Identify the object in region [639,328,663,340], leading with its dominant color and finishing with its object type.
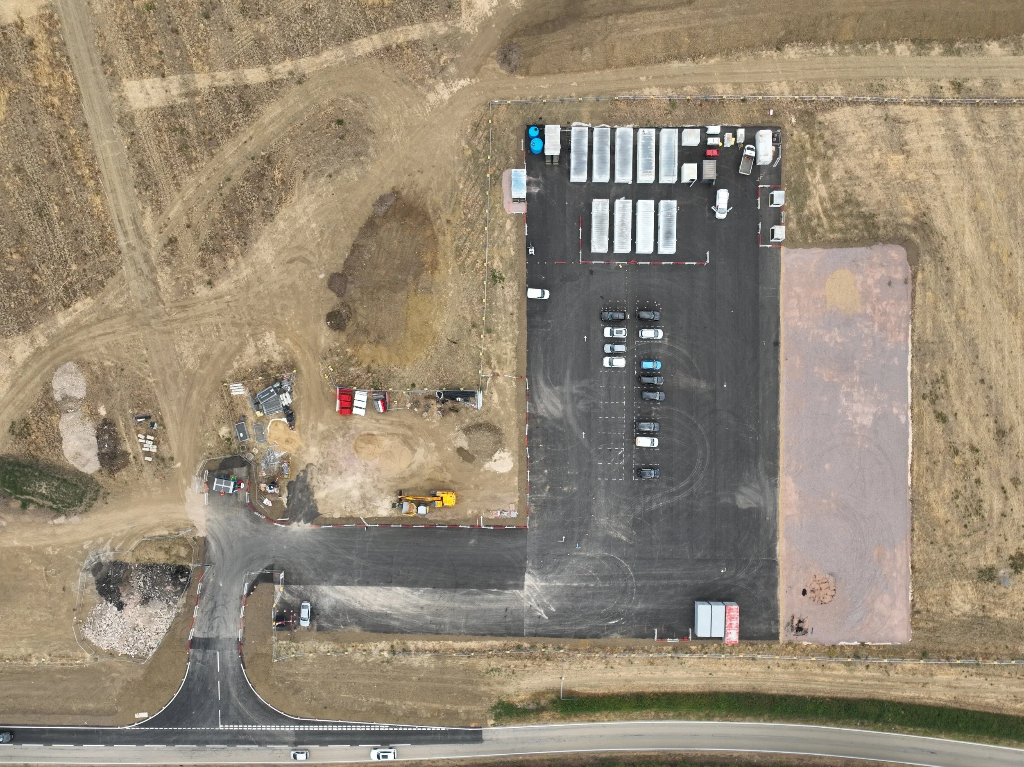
white vehicle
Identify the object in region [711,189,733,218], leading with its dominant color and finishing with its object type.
white vehicle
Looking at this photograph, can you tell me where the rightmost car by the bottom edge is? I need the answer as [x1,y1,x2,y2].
[370,747,396,762]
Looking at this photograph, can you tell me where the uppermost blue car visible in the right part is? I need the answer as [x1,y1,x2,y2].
[640,359,662,371]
